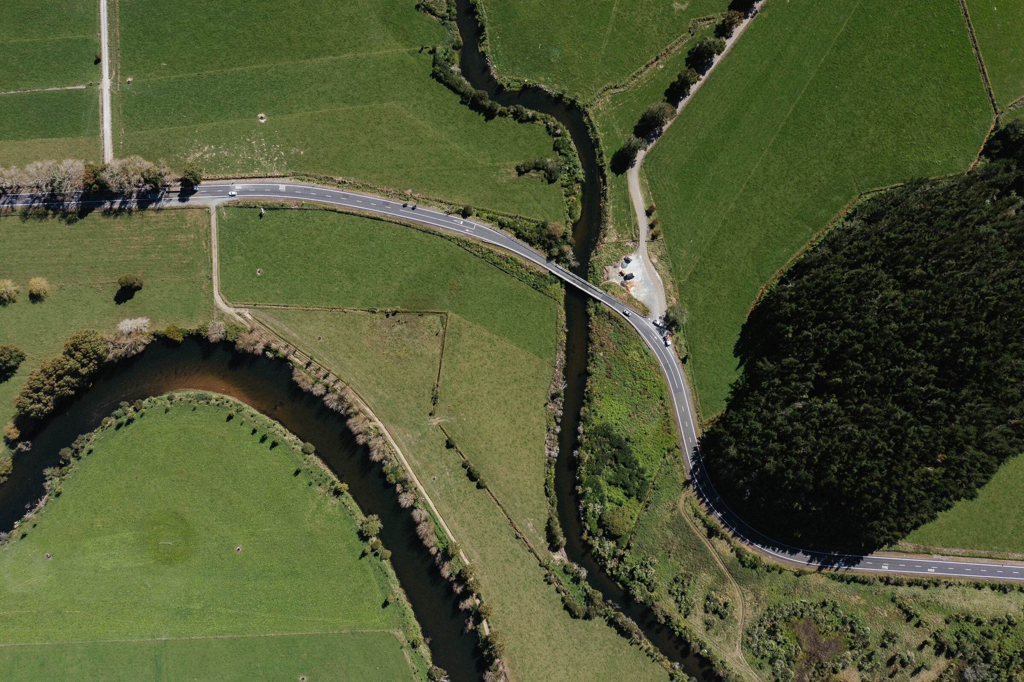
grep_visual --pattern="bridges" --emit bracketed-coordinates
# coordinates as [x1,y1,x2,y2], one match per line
[552,263,606,301]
